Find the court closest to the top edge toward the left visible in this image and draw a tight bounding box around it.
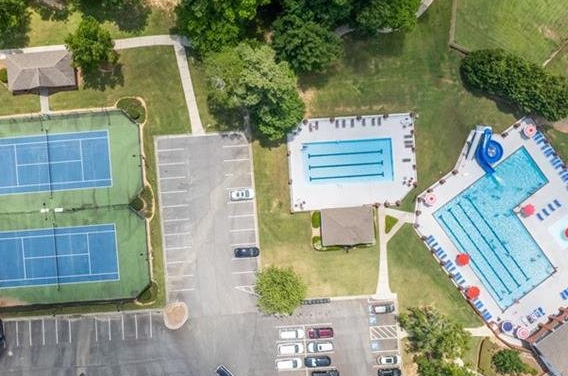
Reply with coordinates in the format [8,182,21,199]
[0,110,143,214]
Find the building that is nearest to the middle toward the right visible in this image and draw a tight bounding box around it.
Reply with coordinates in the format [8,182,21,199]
[320,205,375,246]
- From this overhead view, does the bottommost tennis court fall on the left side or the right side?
left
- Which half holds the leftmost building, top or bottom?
top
